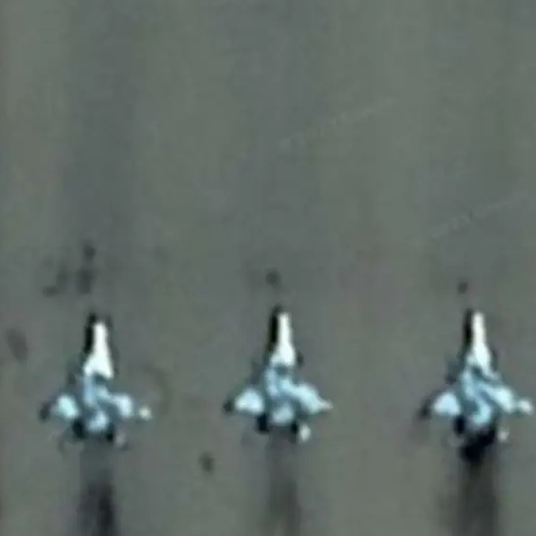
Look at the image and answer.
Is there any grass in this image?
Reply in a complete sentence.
No, there's no grass in this view.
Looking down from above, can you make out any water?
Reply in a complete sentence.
No, there's no water in this view.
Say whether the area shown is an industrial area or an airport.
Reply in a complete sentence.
This image shows an airport.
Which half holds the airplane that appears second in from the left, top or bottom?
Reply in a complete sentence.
The airplane that appears second in from the left sits in the bottom half of the picture.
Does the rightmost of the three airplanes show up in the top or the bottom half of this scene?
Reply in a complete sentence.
The rightmost of the three airplanes is in the bottom half of the image.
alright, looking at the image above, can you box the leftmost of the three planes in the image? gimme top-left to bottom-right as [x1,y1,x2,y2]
[51,321,148,447]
